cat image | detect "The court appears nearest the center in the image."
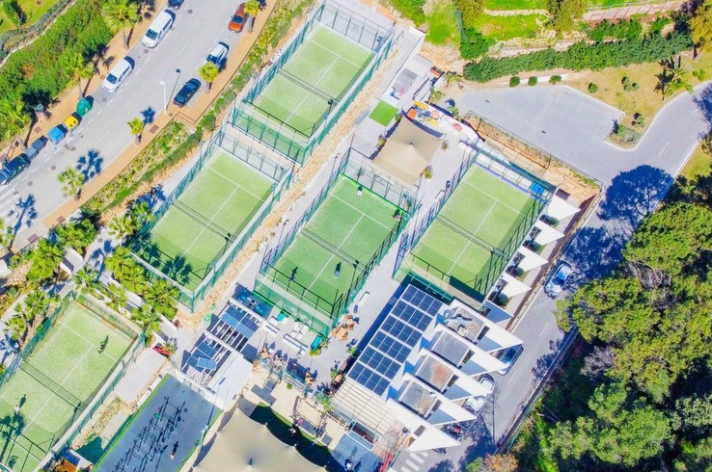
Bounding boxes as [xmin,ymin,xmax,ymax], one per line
[250,155,423,338]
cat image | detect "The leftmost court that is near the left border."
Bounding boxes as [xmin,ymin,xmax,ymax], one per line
[0,286,149,472]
